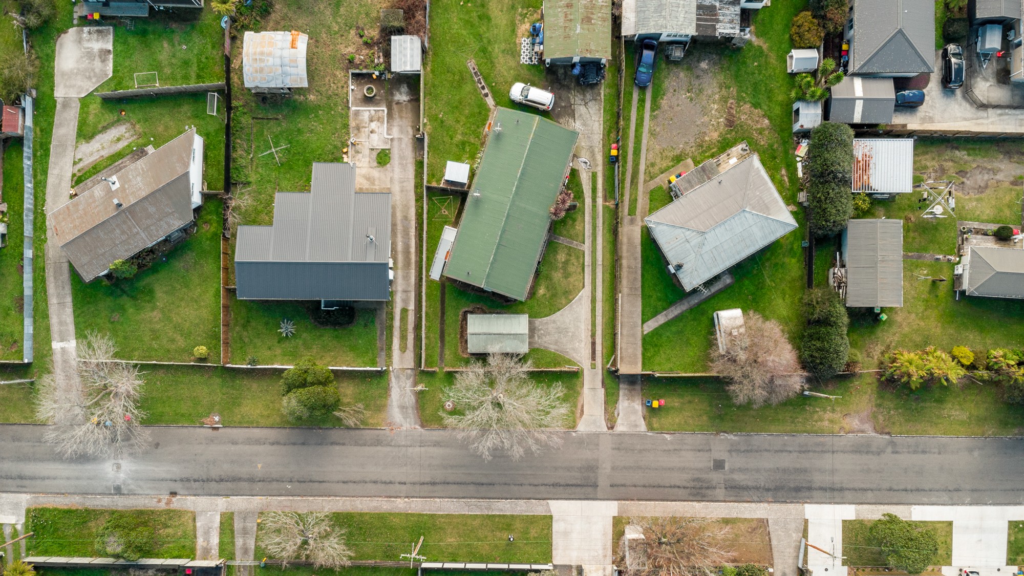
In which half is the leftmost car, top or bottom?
top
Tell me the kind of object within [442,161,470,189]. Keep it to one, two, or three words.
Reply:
shed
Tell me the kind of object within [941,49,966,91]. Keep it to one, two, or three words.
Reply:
car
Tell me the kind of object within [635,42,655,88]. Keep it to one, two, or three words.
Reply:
car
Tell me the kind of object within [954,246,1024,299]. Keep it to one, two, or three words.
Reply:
house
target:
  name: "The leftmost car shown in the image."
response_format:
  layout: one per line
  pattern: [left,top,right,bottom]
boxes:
[511,84,555,111]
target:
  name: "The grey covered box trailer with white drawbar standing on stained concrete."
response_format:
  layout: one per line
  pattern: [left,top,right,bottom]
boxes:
[979,24,1006,68]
